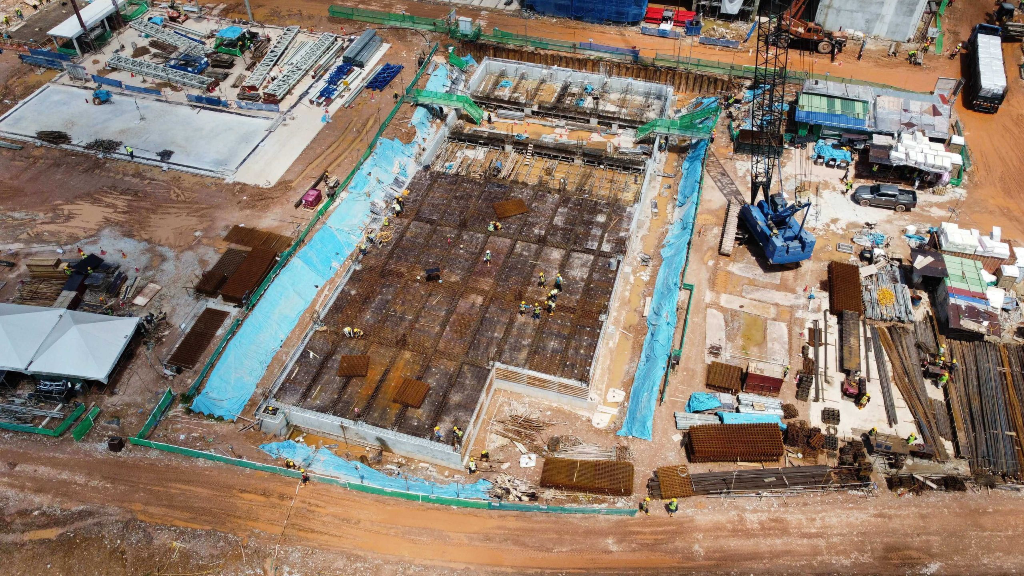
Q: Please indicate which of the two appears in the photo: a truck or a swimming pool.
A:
truck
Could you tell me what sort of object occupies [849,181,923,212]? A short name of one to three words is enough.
truck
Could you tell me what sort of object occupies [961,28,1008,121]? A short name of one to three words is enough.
truck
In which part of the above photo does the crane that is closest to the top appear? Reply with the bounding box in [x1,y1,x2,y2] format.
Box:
[764,0,855,58]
